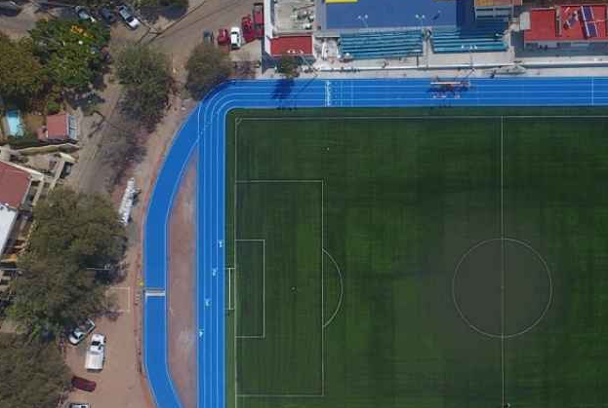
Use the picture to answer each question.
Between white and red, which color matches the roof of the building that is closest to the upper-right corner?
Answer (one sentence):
The roof of the building that is closest to the upper-right corner is red.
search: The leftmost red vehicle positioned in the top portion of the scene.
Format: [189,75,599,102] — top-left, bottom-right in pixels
[217,26,229,48]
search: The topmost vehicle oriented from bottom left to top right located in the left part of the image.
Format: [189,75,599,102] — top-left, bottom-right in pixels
[68,318,95,345]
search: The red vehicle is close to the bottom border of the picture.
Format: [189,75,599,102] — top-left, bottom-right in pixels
[70,377,97,391]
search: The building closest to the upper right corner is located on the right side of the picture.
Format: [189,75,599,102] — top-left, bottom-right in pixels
[519,3,608,46]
